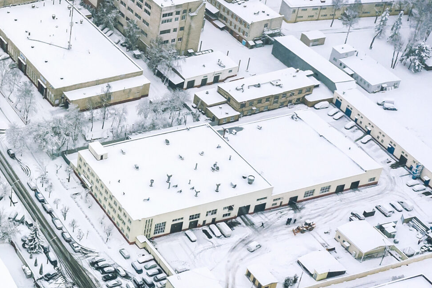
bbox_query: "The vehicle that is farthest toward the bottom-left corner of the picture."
[19,263,32,279]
